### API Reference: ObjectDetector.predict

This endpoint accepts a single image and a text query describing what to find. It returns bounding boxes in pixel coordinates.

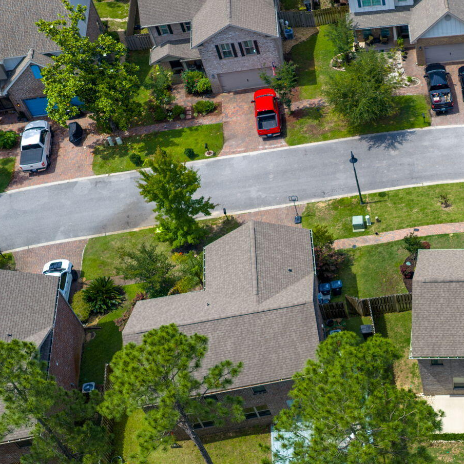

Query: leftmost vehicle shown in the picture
[20,120,57,172]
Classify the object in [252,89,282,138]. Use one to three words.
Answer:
truck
